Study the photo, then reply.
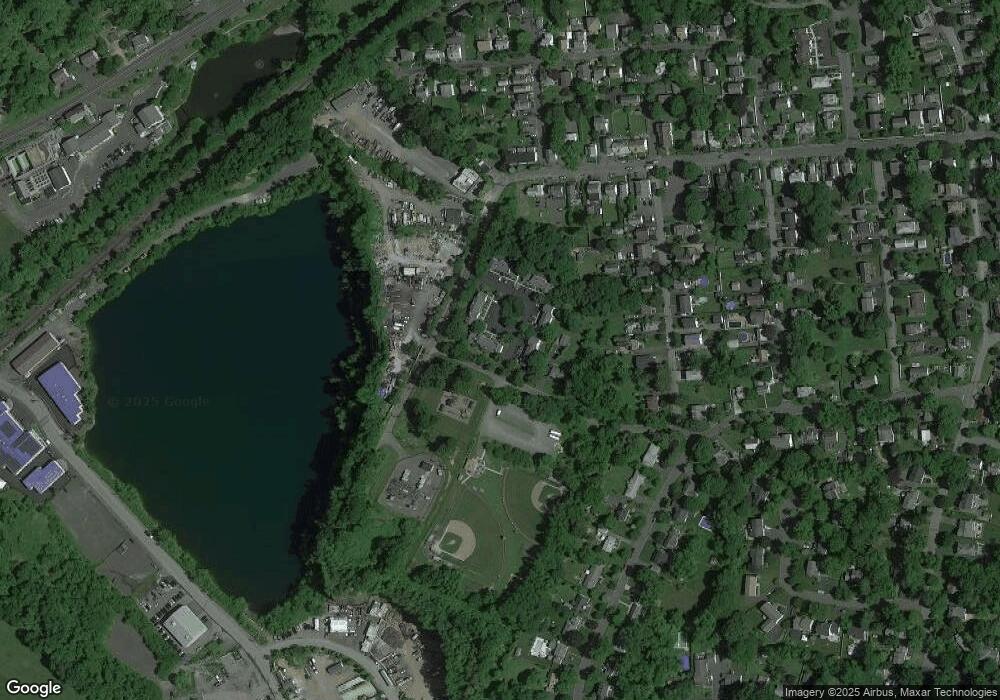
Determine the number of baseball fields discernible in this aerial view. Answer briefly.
two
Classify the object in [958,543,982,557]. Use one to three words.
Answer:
house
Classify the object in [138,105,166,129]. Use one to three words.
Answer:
building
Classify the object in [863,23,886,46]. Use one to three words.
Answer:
house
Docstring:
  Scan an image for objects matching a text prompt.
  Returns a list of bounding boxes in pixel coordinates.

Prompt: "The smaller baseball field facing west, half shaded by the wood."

[505,455,565,540]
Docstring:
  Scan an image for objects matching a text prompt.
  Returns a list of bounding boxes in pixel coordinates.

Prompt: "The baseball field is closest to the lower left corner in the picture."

[434,488,505,580]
